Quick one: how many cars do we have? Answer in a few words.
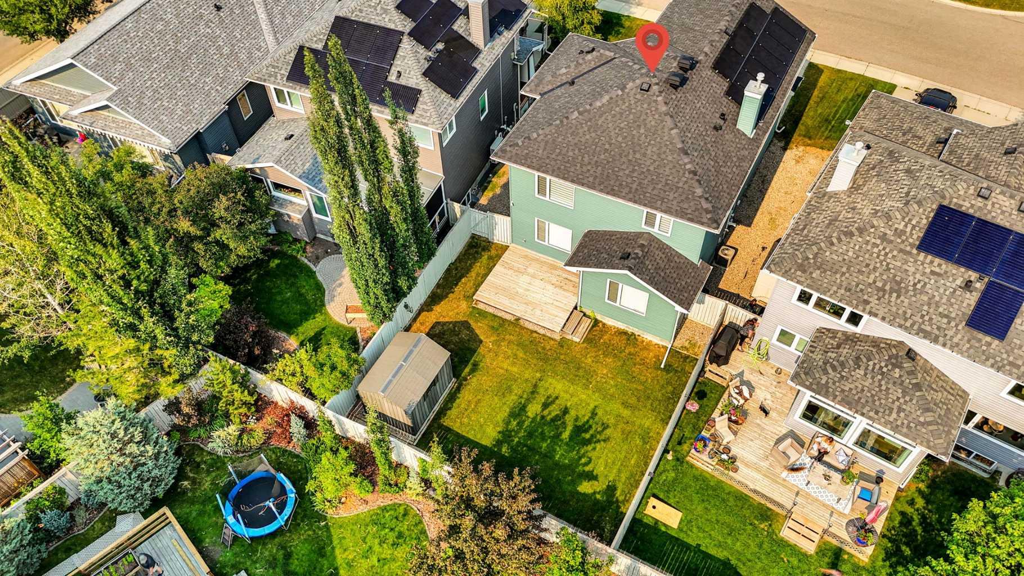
1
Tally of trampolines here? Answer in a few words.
one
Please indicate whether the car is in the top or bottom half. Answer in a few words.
top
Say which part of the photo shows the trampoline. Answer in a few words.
bottom left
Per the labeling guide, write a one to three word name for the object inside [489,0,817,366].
building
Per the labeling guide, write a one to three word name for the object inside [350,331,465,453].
shed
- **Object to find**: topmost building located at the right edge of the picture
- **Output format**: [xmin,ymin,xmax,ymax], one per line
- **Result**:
[750,91,1024,501]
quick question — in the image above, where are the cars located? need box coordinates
[920,88,963,118]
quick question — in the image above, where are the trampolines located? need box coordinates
[216,453,304,546]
